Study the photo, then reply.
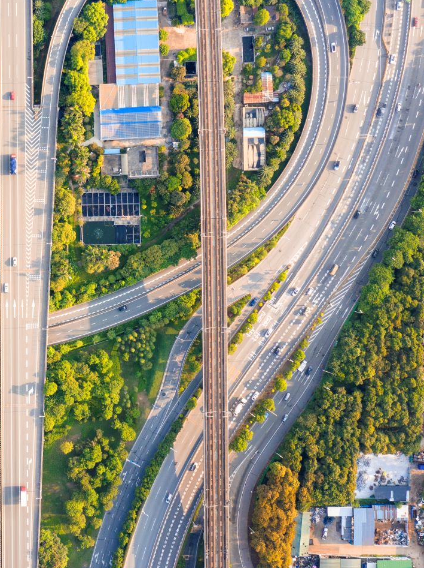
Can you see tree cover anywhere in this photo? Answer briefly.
Yes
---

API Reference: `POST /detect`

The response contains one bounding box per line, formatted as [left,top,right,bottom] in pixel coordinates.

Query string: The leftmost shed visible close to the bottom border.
[289,509,311,556]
